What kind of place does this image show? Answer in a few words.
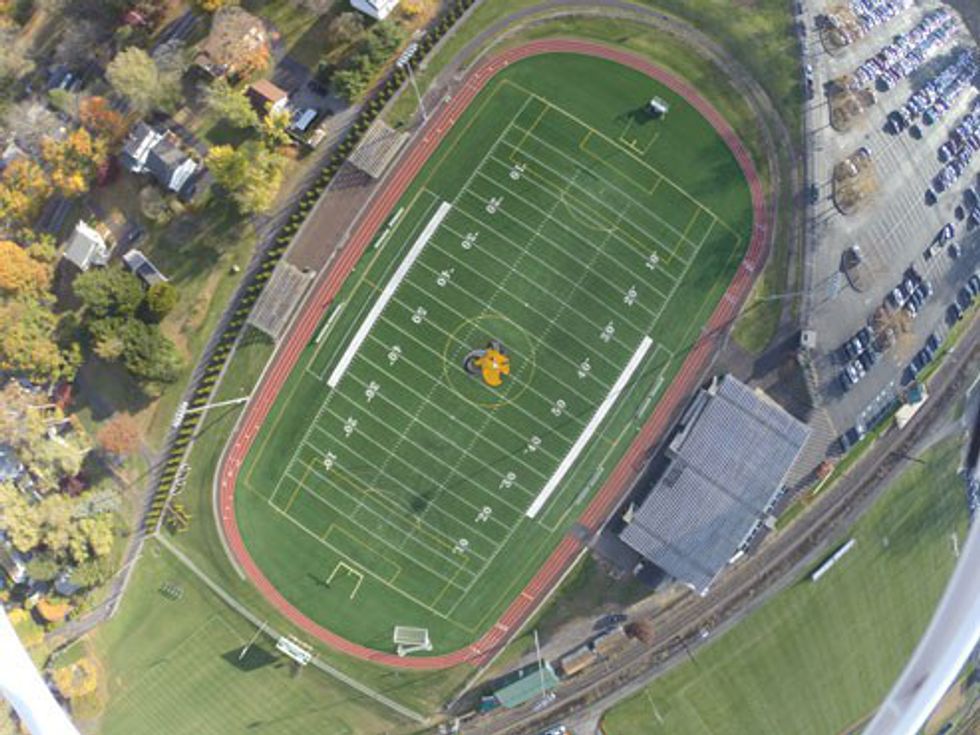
sports ground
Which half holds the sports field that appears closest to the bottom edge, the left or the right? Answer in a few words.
left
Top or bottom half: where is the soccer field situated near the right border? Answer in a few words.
bottom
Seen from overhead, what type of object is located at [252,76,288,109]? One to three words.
building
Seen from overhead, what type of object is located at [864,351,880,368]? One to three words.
car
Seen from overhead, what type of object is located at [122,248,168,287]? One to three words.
shed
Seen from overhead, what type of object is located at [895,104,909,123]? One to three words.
car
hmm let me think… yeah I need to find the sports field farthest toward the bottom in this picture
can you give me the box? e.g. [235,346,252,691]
[98,617,334,735]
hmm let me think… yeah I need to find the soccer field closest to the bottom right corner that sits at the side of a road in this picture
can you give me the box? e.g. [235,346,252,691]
[653,481,980,735]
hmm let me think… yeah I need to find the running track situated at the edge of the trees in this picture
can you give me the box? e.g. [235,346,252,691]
[220,36,768,670]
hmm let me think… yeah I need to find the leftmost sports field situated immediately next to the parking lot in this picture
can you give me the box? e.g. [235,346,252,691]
[234,52,752,657]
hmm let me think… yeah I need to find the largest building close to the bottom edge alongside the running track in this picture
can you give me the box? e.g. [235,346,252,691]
[496,656,559,710]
